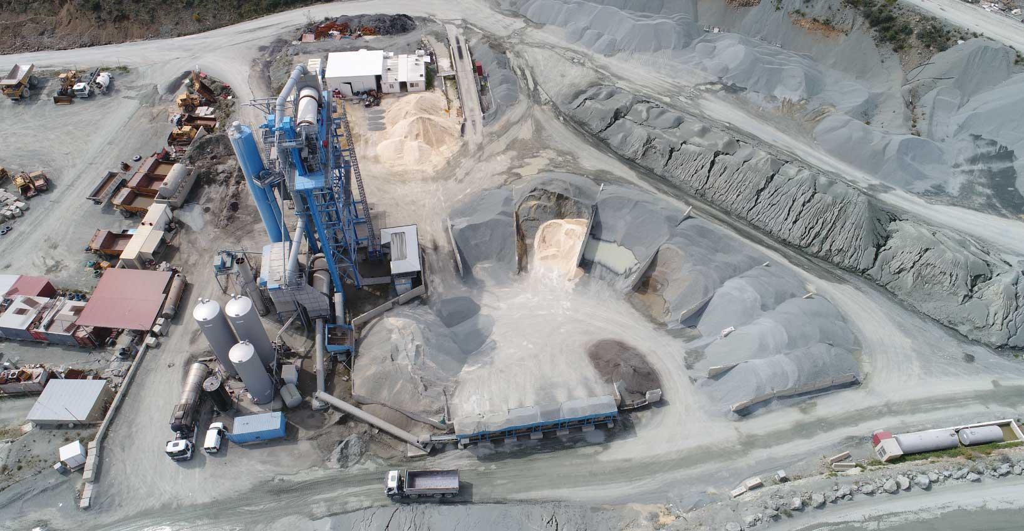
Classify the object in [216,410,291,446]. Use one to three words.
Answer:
shipping container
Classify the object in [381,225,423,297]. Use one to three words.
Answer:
building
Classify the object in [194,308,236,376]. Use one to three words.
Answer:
silo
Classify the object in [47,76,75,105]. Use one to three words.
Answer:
work vehicle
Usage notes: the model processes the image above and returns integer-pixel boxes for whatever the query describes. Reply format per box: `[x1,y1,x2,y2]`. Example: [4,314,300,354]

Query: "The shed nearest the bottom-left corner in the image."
[62,439,89,474]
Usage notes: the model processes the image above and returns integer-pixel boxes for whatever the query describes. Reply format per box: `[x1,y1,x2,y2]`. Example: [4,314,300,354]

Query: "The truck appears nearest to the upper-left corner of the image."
[0,64,37,100]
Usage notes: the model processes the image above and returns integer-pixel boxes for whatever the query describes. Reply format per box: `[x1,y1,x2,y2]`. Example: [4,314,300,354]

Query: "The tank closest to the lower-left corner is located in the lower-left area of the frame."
[200,376,231,413]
